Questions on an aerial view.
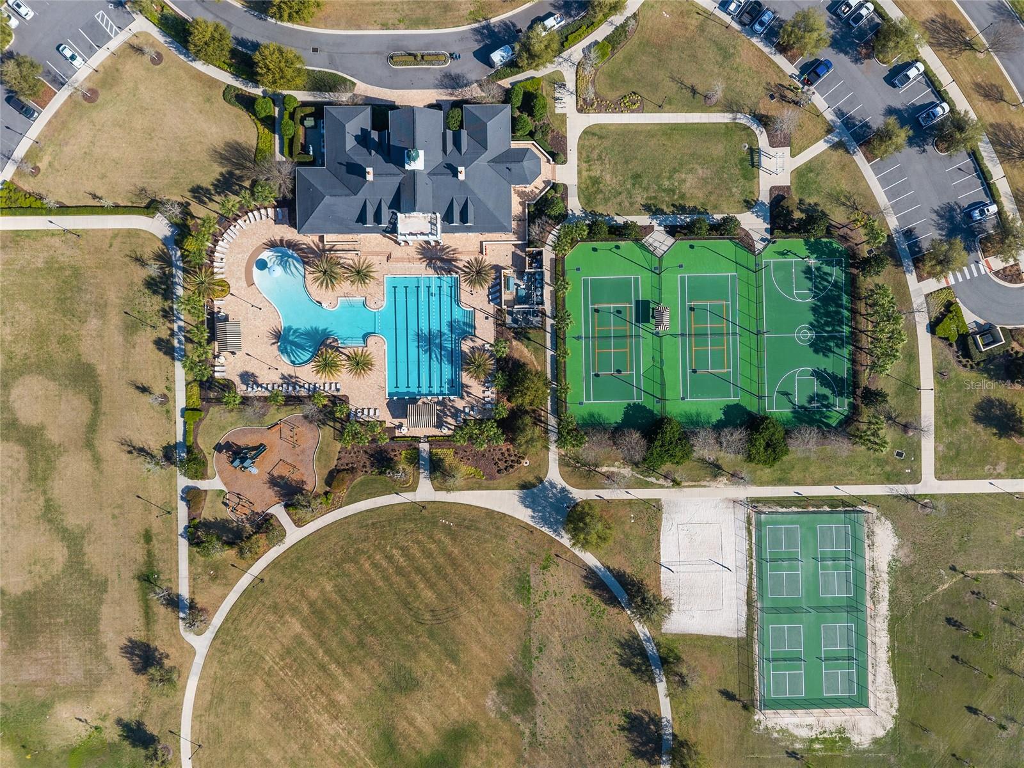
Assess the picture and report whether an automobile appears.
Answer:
Yes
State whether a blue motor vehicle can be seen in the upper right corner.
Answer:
Yes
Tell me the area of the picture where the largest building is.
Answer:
top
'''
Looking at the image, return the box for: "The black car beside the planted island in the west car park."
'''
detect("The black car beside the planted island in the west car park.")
[11,97,39,120]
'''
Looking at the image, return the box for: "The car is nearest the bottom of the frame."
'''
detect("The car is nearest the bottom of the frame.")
[967,202,996,221]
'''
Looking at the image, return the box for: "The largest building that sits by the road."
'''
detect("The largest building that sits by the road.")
[296,104,541,246]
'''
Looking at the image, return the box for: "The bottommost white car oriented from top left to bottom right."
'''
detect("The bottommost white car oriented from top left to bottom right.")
[60,45,85,69]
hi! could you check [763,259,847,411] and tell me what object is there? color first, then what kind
green basketball court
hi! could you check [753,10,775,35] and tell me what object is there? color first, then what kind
blue car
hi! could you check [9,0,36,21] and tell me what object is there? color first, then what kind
white car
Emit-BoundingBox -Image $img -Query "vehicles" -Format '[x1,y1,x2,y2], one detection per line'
[722,0,744,20]
[915,103,947,129]
[736,0,763,32]
[967,202,996,221]
[802,59,830,89]
[845,1,873,33]
[536,12,568,33]
[9,0,36,21]
[889,64,922,91]
[487,46,519,72]
[837,0,863,24]
[60,45,85,69]
[753,10,775,35]
[11,97,39,120]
